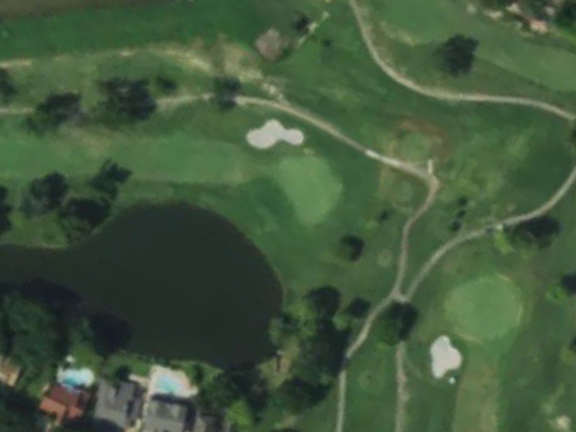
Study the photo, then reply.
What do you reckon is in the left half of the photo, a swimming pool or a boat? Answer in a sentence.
The feature located in the left half of the photo is a swimming pool.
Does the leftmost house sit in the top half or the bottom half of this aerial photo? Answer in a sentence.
Seen from above, the leftmost house lies in the bottom half of the view.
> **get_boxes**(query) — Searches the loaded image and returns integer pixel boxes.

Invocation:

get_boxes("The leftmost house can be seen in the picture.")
[0,359,21,387]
